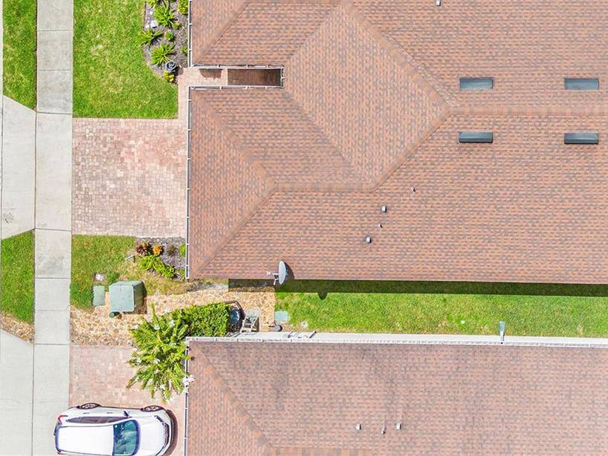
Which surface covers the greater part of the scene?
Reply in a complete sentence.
What you mostly see from above here is buildings.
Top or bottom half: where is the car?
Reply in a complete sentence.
Seen from above, the car lies in the bottom half of the view.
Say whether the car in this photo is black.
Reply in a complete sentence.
No, the car is white.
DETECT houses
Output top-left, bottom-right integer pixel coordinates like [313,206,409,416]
[184,0,608,284]
[184,326,608,456]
